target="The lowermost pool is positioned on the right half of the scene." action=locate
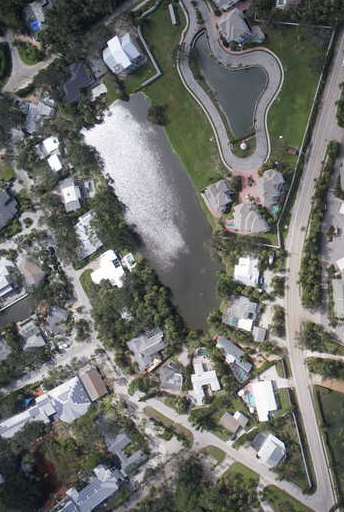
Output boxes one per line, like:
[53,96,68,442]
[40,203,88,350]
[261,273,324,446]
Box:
[240,383,256,413]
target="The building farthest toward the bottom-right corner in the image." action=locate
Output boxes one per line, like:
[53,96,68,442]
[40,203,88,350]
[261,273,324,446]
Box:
[251,432,286,465]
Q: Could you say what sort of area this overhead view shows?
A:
residential area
